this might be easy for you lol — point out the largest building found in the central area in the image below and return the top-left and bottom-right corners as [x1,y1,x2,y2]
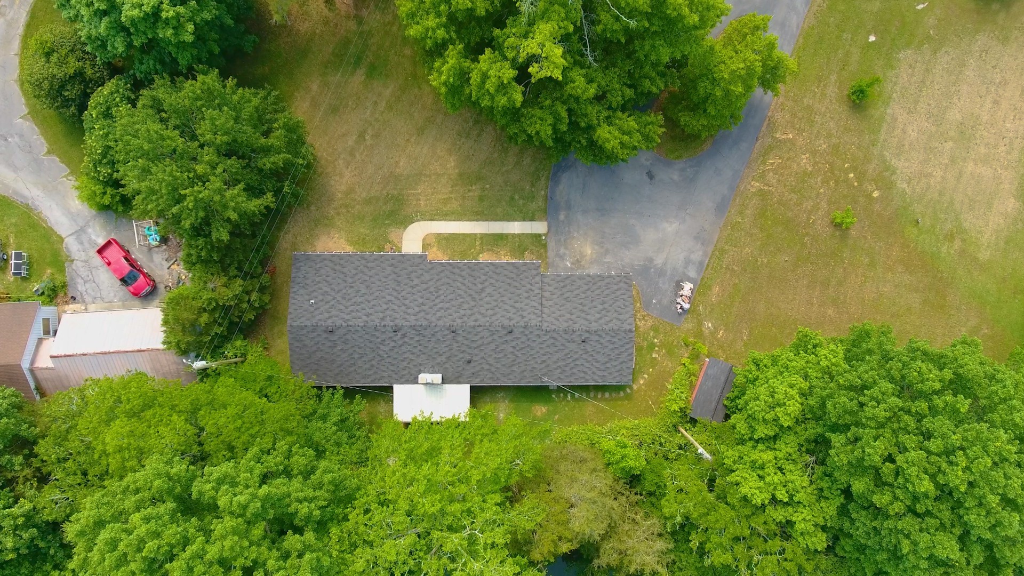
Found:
[287,251,635,421]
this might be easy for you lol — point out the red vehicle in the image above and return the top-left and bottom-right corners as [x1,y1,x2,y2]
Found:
[95,237,159,300]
